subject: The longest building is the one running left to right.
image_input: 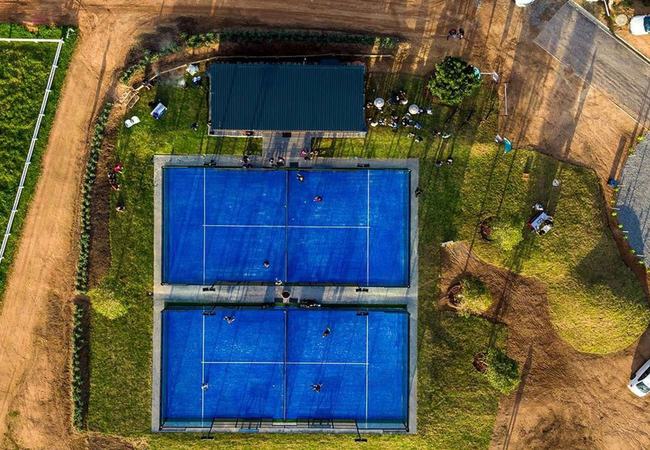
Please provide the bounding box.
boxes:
[208,60,367,138]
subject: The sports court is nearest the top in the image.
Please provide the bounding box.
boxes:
[161,161,411,291]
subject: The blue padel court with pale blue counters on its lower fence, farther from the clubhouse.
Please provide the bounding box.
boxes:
[159,303,410,440]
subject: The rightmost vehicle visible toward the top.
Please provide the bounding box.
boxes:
[628,11,650,37]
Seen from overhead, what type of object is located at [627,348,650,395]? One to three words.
car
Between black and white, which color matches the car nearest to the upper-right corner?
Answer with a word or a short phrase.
white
